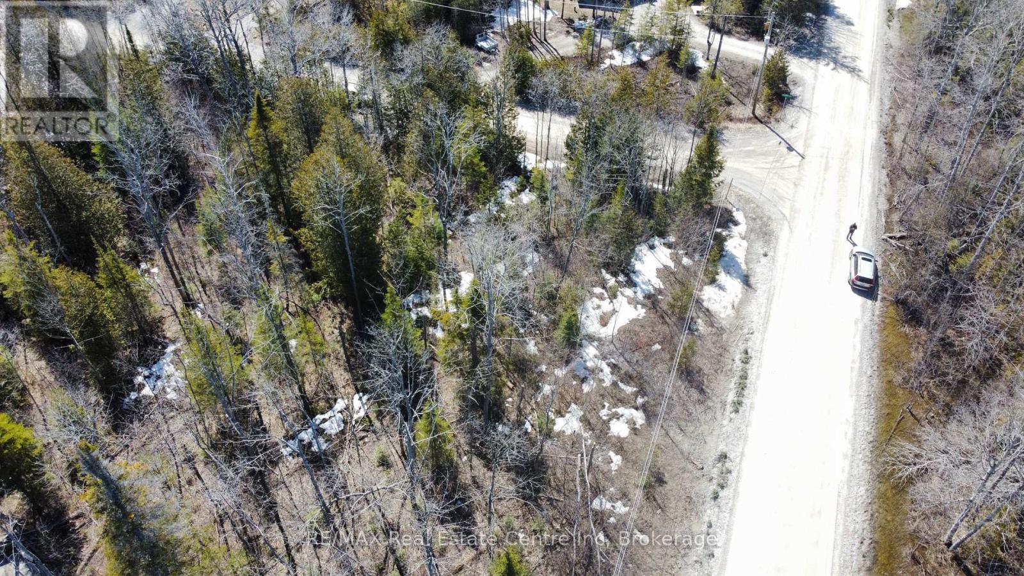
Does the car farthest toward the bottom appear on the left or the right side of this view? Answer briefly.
right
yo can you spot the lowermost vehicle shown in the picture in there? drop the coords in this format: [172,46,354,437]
[850,244,880,291]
